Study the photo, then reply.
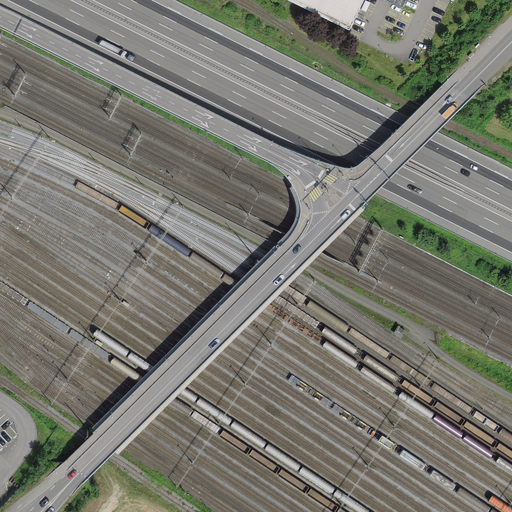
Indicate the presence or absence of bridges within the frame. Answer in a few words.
Yes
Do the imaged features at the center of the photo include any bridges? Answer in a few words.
Yes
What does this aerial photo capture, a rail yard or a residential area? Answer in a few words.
rail yard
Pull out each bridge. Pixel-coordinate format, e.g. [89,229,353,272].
[76,74,472,471]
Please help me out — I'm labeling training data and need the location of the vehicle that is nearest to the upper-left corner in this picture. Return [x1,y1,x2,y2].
[100,38,135,61]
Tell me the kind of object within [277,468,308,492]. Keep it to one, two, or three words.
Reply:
rail car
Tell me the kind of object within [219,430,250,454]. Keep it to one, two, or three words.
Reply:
rail car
